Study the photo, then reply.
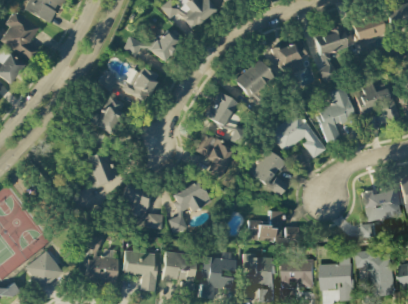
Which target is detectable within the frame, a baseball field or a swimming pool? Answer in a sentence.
Visible in the photo is a swimming pool.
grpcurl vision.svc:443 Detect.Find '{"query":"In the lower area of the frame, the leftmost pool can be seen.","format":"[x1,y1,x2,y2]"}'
[187,208,211,230]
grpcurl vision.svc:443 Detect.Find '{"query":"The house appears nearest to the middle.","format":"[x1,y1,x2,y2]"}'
[195,136,232,172]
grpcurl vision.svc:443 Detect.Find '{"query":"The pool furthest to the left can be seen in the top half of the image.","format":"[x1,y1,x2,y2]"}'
[106,60,130,78]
